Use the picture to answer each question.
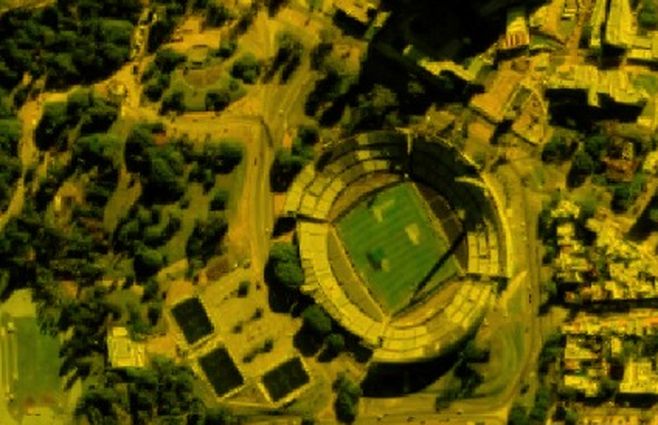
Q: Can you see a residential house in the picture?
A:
Yes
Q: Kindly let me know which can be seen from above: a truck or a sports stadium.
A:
sports stadium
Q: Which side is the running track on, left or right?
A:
left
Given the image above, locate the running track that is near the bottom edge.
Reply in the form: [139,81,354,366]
[0,287,85,425]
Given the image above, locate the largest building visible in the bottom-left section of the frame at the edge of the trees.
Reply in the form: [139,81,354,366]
[109,339,139,368]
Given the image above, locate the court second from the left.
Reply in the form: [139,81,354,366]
[196,343,248,401]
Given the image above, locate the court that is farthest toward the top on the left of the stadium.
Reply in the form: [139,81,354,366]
[168,293,218,350]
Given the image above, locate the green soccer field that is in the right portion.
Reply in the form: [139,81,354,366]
[337,184,462,316]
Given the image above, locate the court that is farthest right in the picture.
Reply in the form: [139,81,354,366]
[259,354,316,405]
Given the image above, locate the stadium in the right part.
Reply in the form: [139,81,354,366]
[285,128,513,370]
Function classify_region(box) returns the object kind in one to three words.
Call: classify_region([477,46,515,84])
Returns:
building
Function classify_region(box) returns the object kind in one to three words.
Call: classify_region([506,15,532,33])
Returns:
building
